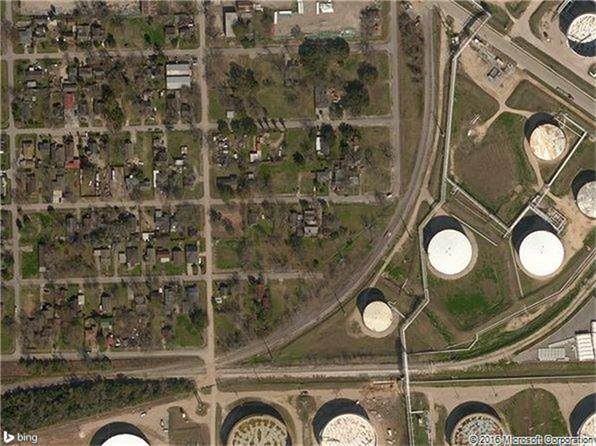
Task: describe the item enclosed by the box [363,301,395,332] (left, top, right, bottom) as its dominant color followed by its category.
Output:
white storage tank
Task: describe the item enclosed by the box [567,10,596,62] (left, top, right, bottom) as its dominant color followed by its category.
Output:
white storage tank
